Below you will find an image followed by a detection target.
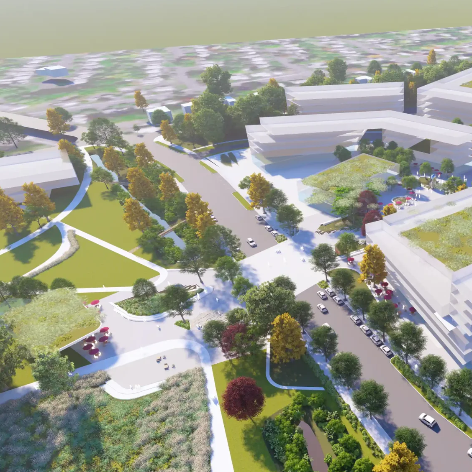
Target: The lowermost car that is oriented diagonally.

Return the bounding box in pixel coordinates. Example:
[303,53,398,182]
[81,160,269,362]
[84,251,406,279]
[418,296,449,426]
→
[421,413,437,430]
